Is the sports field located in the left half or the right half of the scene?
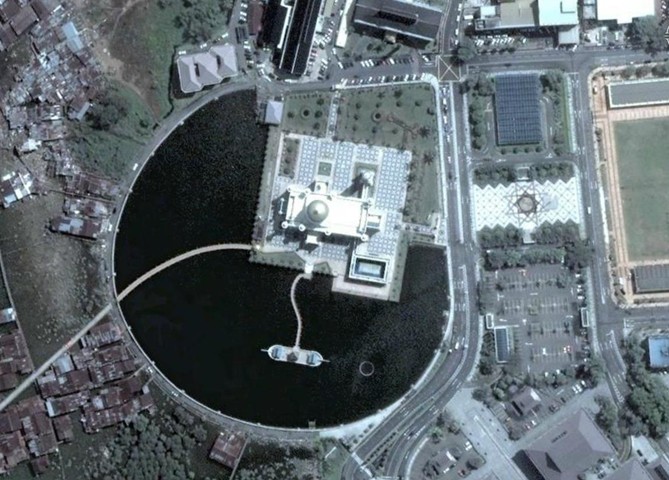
right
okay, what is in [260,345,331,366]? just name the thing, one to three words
building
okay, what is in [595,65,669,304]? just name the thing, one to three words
sports field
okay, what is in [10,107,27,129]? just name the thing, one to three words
shed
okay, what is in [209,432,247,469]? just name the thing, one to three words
house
